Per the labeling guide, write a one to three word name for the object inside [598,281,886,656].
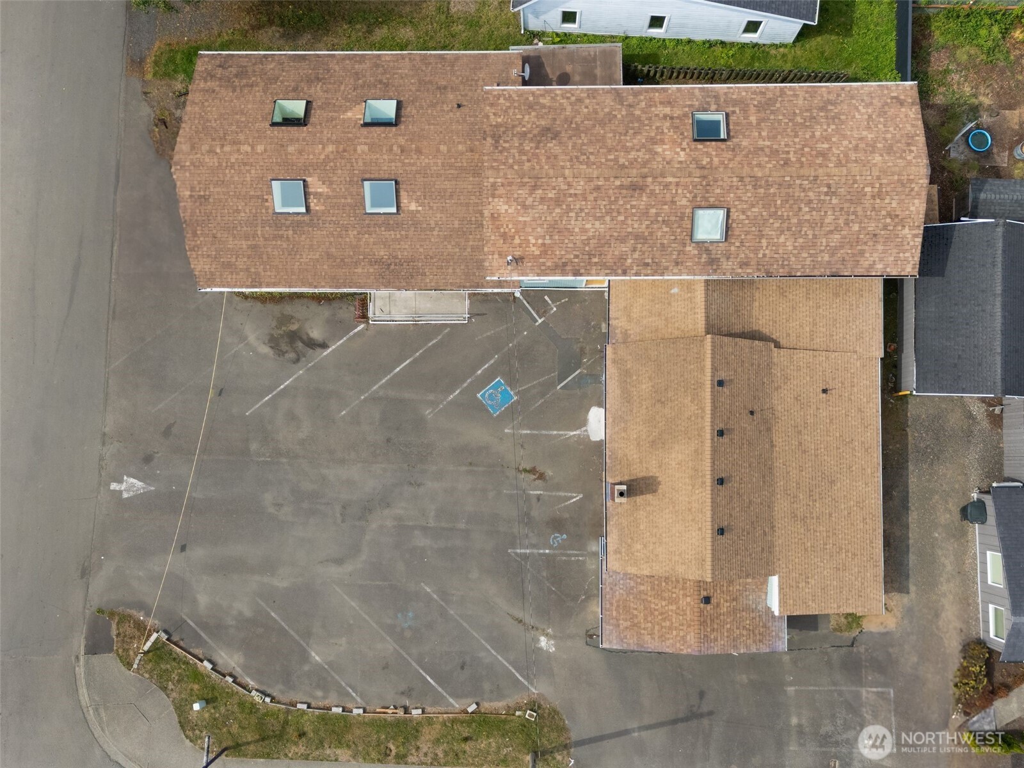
house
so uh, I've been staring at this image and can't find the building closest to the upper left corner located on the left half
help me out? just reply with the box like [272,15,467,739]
[176,51,522,294]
